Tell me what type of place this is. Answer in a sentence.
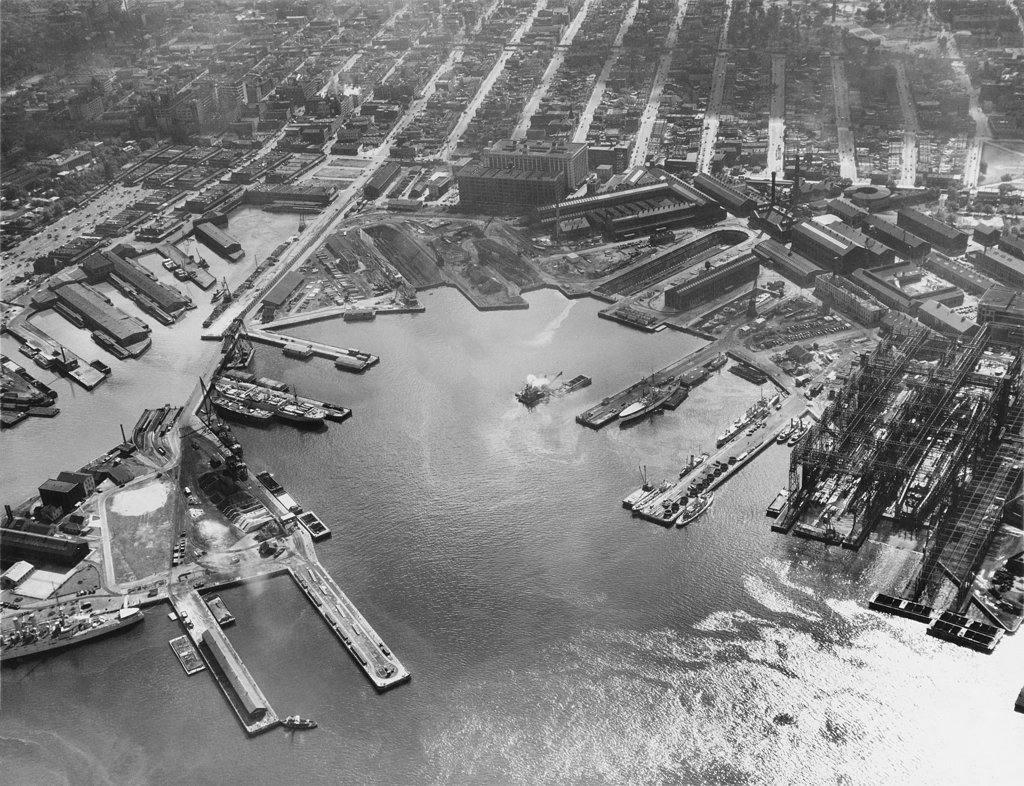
This looks like a port.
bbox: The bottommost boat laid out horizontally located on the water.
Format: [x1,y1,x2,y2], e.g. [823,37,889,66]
[280,713,318,731]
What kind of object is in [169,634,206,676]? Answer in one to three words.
ship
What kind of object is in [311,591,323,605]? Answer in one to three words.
rail car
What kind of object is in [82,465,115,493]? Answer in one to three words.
shed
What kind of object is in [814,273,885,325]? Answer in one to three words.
building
